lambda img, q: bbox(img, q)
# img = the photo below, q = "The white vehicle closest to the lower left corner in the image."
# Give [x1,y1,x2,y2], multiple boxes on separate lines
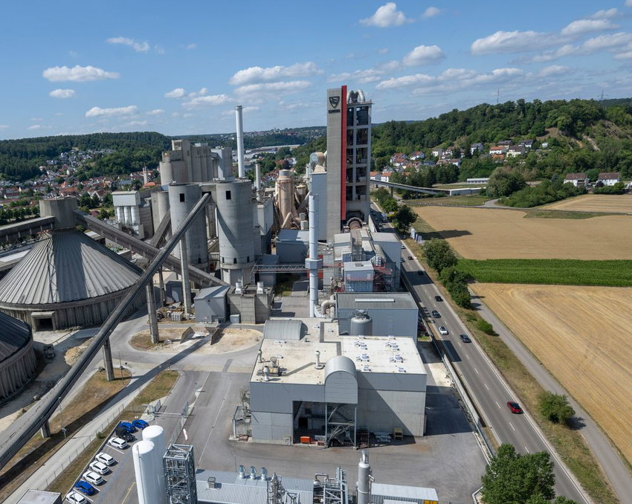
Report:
[65,491,87,504]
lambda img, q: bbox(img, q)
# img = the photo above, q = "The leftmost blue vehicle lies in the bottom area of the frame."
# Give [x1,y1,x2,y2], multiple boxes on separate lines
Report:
[74,480,96,496]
